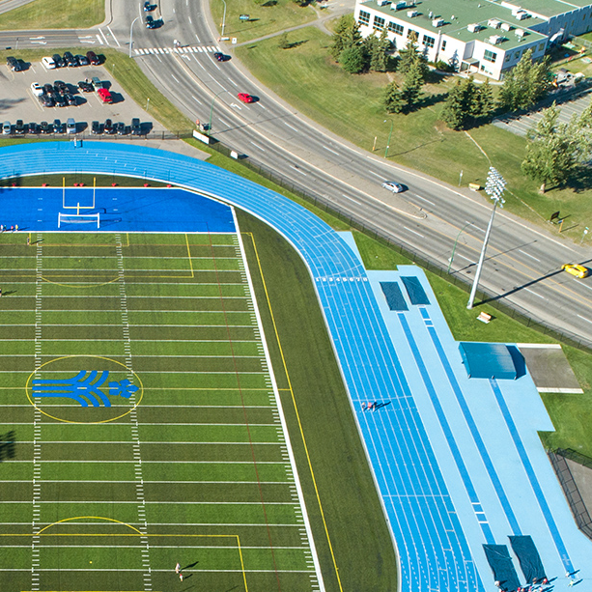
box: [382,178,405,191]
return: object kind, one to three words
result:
vehicle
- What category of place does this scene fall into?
sports ground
